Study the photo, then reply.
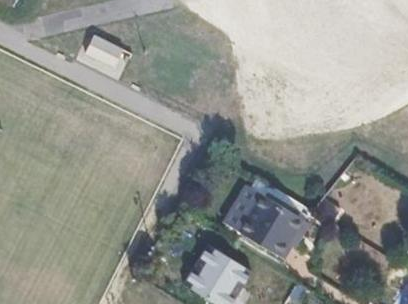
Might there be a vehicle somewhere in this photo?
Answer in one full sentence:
No, no vehicle is visible in the scene.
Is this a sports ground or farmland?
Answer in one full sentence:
It's a sports ground.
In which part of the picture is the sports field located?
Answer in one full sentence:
The sports field is in the left part of the image.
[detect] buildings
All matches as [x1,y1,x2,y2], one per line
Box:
[222,180,307,259]
[186,250,252,304]
[77,36,132,80]
[286,285,307,304]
